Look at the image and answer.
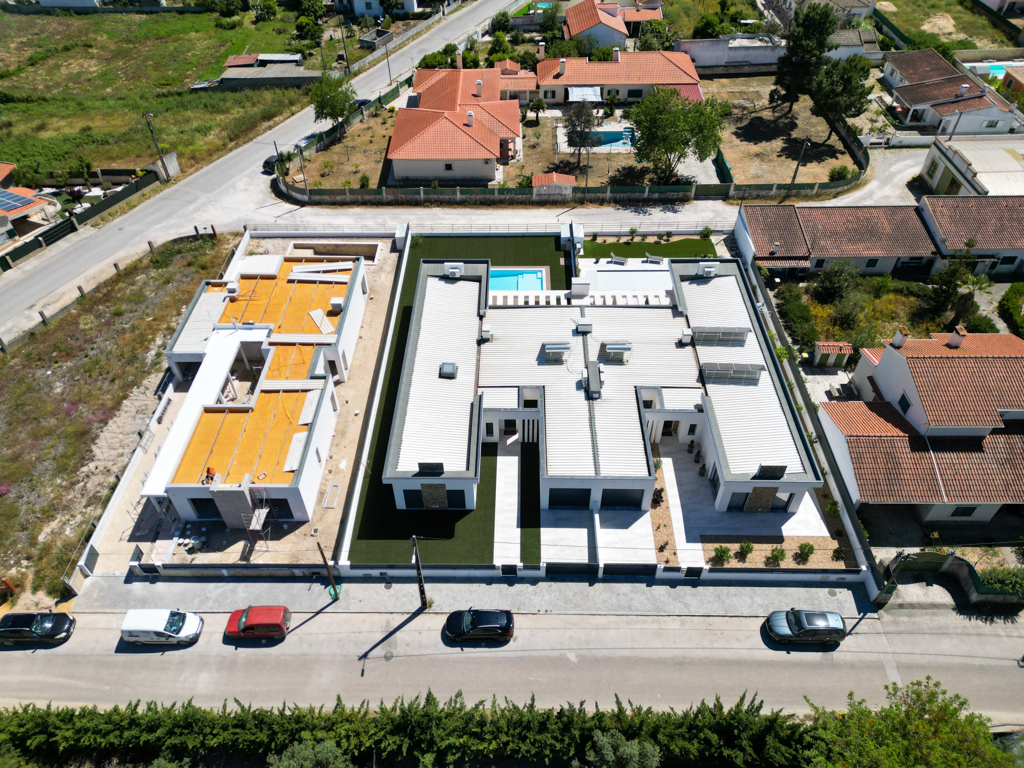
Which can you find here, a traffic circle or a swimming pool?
swimming pool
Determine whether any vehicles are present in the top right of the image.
No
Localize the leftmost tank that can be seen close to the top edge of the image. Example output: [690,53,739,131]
[357,26,394,49]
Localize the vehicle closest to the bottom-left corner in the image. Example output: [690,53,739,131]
[0,605,78,644]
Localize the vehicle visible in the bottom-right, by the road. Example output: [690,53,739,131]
[763,613,855,655]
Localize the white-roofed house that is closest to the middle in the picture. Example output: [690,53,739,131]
[382,258,601,510]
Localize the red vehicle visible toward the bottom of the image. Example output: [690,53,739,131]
[223,602,295,641]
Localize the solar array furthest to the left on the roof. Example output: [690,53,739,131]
[0,188,35,211]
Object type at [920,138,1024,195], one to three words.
barn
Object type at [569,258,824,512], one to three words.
house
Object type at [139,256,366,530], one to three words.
house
